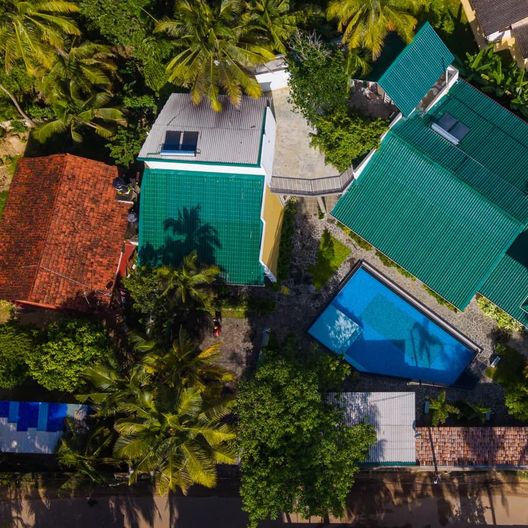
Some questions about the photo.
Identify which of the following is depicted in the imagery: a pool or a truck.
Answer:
pool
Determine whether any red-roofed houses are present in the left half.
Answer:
Yes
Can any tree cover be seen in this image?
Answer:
Yes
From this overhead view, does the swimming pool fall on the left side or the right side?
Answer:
right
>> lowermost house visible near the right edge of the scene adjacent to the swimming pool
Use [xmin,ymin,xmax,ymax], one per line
[329,76,528,326]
